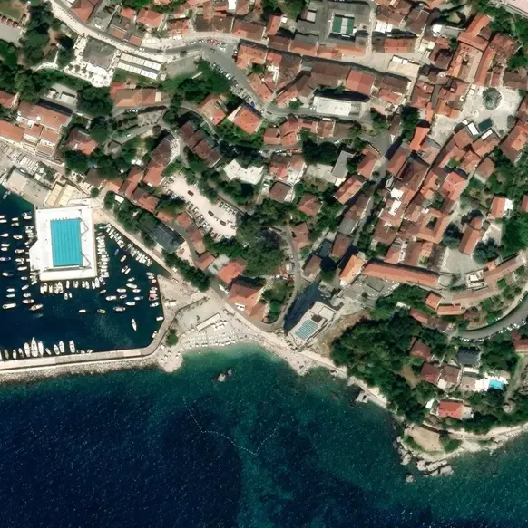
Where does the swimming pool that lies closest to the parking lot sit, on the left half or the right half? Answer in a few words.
left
